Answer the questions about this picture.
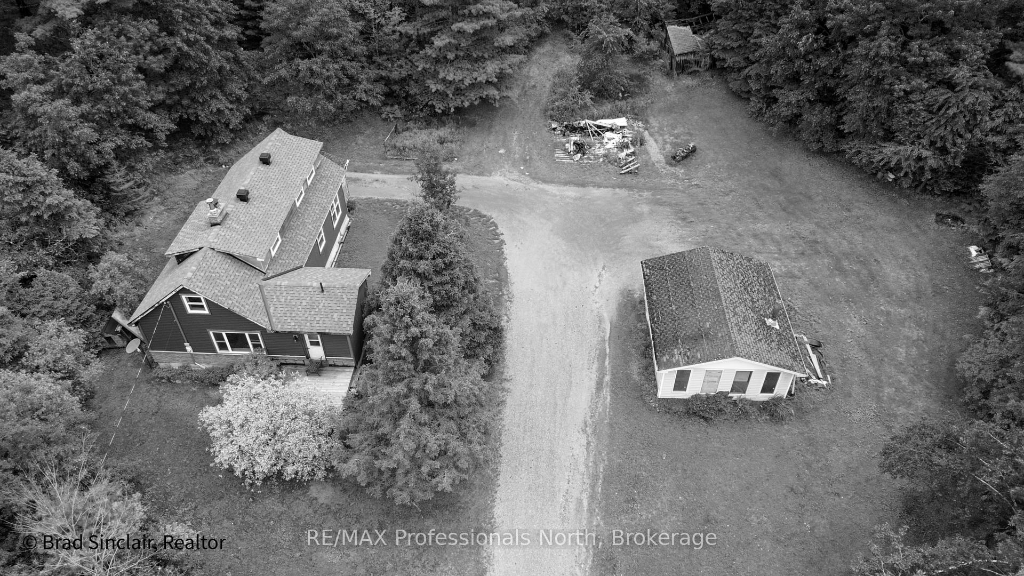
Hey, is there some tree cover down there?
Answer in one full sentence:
Yes, there's tree cover in this view.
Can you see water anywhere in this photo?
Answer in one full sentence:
No, no water is visible.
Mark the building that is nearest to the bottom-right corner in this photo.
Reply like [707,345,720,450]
[640,246,808,401]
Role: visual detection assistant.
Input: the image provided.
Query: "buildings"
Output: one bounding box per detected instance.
[666,12,719,76]
[130,127,373,368]
[640,246,808,401]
